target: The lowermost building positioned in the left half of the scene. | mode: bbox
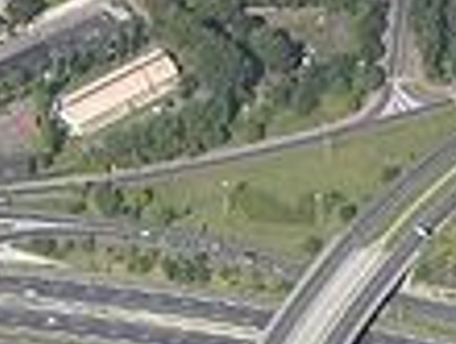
[52,49,181,142]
